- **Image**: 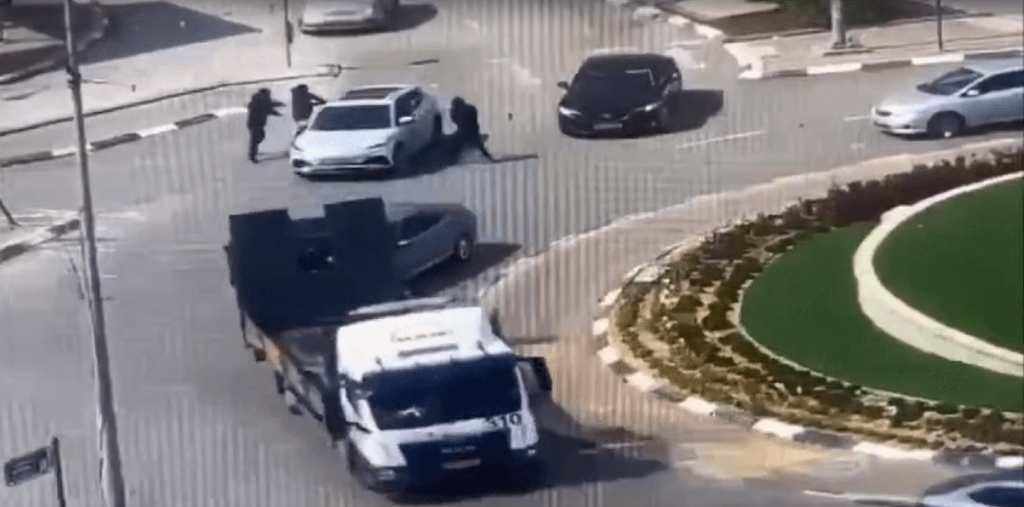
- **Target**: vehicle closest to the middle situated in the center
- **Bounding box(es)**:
[393,201,486,289]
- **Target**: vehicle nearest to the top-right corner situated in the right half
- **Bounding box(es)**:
[872,53,1024,145]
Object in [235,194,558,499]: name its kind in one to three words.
truck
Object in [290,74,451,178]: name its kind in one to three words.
car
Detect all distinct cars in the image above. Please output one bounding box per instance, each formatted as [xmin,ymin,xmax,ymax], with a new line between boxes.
[290,74,451,178]
[393,201,486,289]
[872,53,1024,145]
[555,48,683,140]
[301,0,413,35]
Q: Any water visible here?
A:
No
